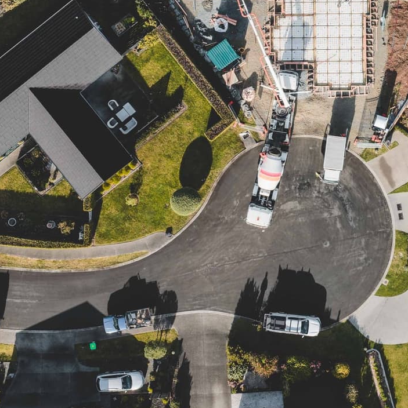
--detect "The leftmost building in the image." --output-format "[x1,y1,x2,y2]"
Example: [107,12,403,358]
[0,0,133,199]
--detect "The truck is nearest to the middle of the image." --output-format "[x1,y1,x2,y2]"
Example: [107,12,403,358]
[242,141,287,236]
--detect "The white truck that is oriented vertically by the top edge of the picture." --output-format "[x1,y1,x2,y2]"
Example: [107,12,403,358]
[237,0,313,153]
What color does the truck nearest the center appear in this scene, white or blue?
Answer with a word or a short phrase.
white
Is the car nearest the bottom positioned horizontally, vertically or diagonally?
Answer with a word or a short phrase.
horizontally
